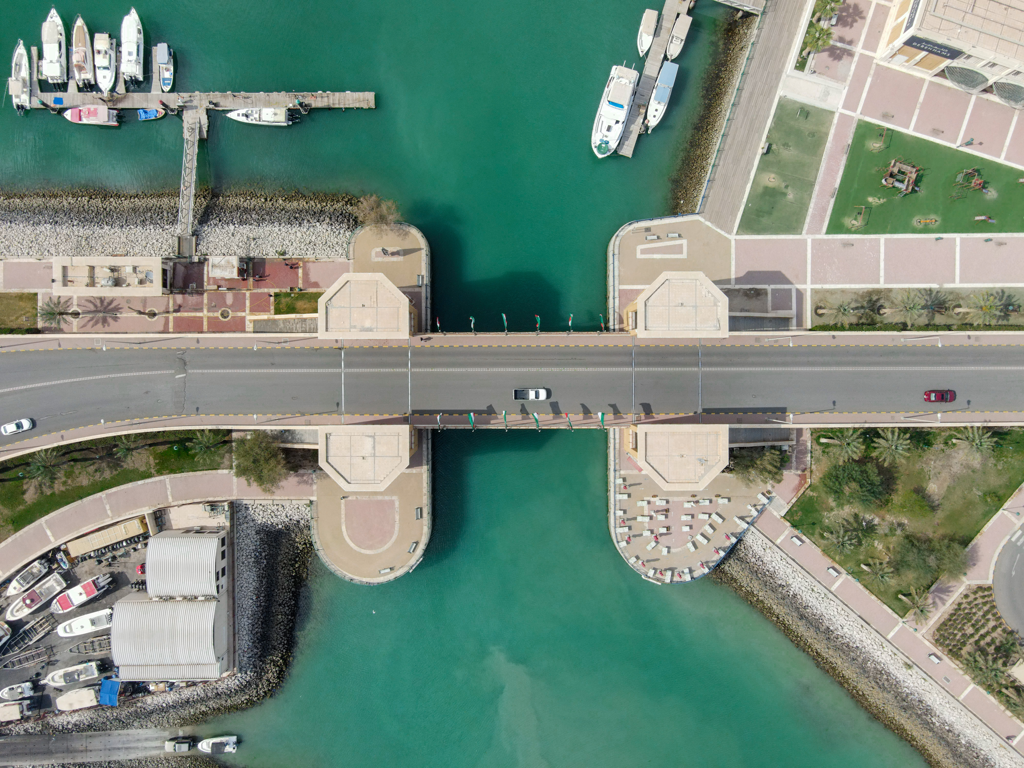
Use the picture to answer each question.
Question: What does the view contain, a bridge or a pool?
bridge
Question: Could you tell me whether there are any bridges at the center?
Yes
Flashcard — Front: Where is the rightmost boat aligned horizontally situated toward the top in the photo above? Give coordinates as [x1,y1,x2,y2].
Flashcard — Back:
[223,106,299,126]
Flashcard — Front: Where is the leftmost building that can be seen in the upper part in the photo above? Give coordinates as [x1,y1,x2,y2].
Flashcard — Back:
[51,256,177,297]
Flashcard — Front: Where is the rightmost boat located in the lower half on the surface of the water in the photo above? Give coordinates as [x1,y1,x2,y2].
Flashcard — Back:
[197,737,246,754]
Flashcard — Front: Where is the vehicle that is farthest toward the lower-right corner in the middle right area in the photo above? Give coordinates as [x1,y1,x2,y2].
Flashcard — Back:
[923,389,953,403]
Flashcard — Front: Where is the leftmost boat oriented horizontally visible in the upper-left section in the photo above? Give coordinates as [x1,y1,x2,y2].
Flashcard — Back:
[64,106,128,127]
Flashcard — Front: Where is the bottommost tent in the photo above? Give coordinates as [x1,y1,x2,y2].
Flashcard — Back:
[99,673,125,706]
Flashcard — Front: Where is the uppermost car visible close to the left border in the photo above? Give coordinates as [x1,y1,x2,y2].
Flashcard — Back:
[1,418,35,436]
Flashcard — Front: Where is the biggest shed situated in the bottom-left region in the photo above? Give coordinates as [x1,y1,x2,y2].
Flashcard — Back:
[110,529,228,680]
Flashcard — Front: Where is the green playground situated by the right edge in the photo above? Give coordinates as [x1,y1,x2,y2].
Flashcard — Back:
[826,120,1024,234]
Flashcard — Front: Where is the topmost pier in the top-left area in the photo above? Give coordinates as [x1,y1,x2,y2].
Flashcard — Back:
[31,46,375,140]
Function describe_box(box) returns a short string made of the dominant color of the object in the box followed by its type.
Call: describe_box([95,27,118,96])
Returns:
white boat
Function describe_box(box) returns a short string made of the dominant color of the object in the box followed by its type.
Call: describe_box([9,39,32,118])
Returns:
white boat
